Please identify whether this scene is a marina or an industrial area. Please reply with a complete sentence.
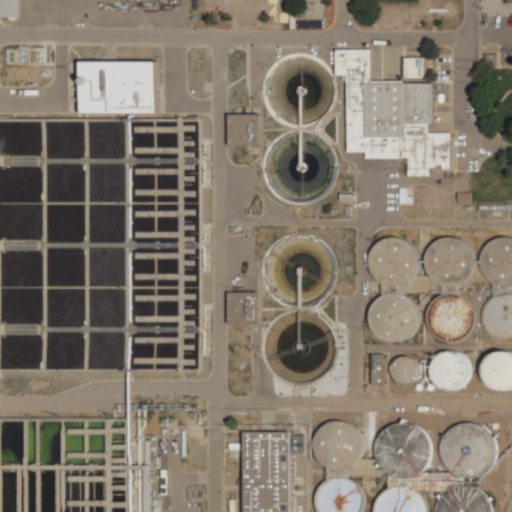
The picture captures an industrial area.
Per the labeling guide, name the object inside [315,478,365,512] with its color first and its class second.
white storage tank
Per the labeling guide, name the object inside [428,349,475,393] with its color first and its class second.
white storage tank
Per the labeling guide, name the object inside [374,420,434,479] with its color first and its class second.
gray storage tank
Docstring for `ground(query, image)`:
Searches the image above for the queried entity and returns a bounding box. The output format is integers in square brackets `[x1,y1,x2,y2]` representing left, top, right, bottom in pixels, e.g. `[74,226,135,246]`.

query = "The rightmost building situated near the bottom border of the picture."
[388,476,467,492]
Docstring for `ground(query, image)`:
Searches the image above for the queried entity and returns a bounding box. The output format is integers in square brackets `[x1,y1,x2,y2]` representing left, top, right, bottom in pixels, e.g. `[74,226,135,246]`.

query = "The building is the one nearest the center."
[227,293,260,322]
